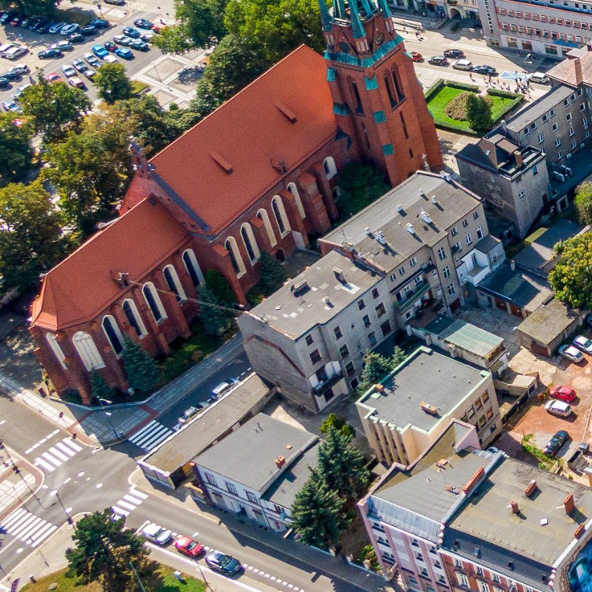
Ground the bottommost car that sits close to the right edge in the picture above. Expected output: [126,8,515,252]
[551,430,569,443]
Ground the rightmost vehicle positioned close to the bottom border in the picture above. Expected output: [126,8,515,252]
[207,550,238,574]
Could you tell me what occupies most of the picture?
buildings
